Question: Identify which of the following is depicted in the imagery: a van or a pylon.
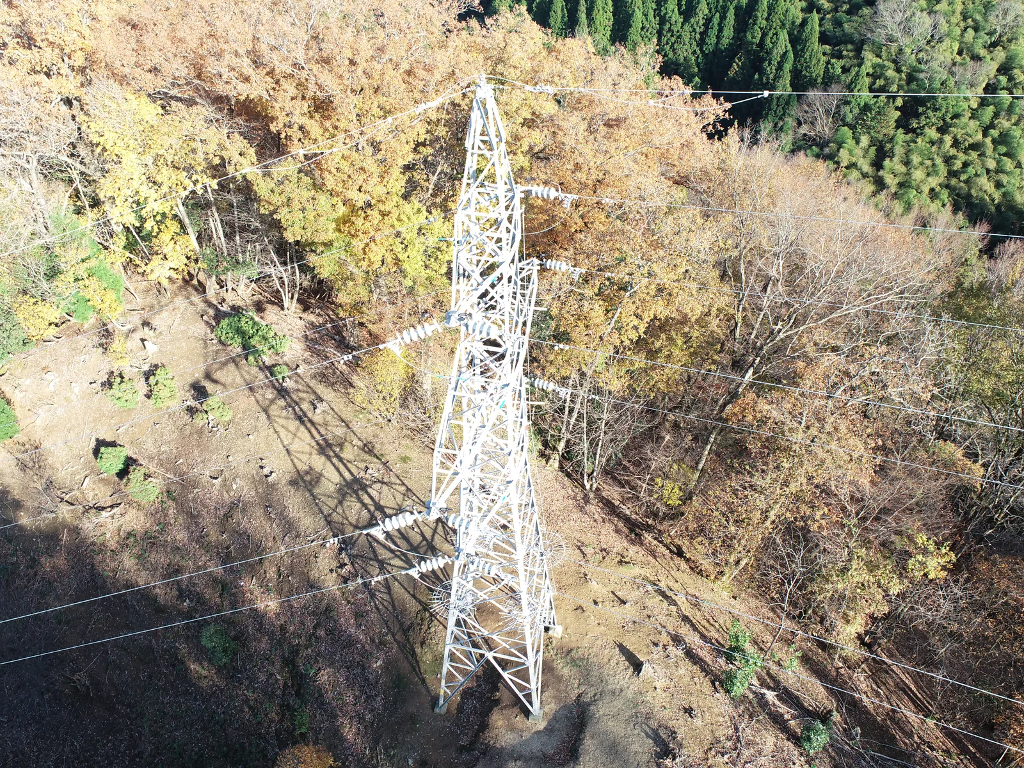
pylon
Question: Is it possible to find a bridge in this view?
No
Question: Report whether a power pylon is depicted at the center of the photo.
Yes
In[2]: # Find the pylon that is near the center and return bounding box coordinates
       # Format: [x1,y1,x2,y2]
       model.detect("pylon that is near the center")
[416,76,565,730]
